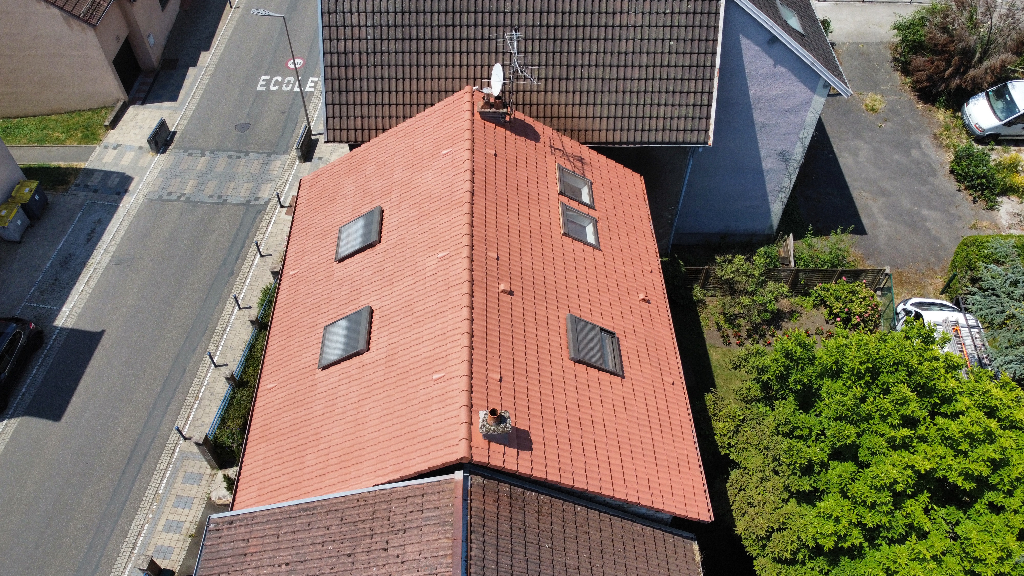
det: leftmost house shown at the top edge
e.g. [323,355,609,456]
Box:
[0,0,181,117]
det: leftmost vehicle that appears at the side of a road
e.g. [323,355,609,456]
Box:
[0,319,44,423]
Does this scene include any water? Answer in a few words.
No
